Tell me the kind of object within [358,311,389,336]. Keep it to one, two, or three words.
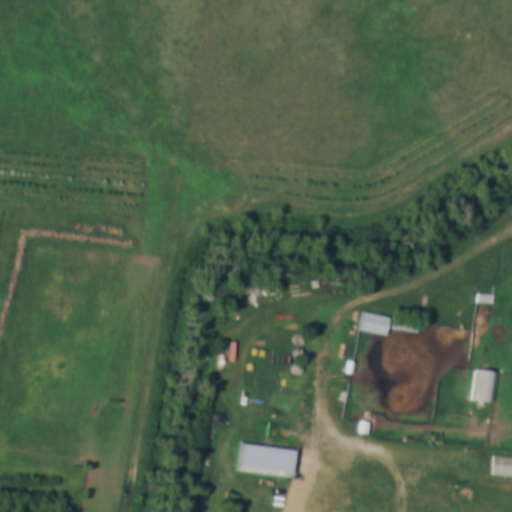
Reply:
shed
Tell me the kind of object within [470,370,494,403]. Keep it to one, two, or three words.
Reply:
house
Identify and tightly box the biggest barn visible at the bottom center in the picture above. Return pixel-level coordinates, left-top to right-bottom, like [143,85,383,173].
[236,441,297,477]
